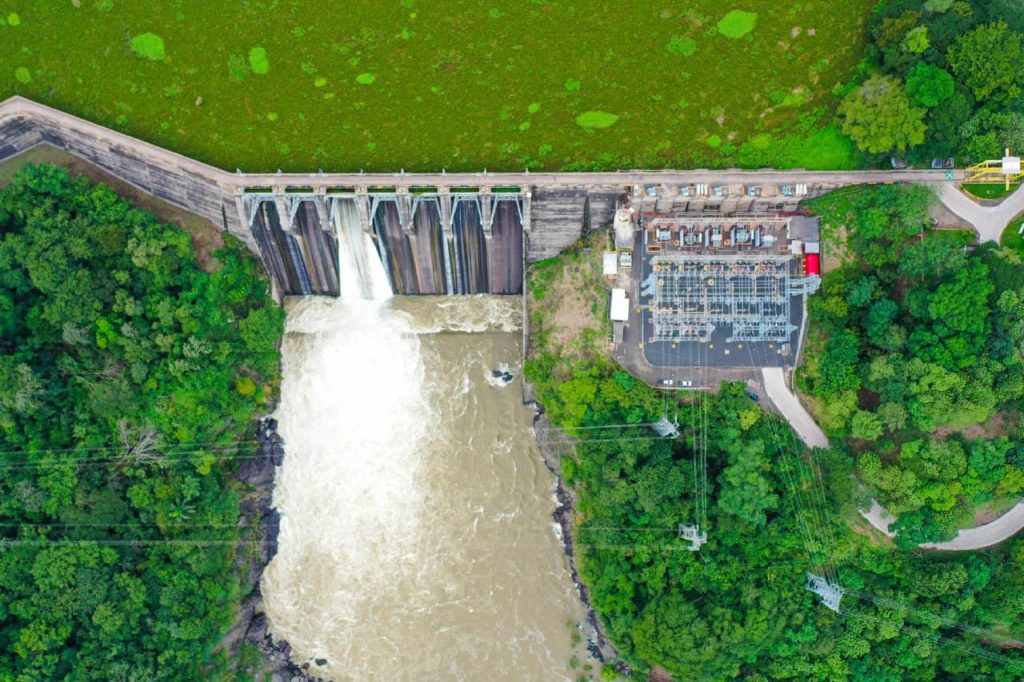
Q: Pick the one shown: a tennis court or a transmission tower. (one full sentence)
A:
This aerial view contains a transmission tower.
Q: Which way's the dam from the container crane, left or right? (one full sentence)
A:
The dam appears to the left of the container crane in this view.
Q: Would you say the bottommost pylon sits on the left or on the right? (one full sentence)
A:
The bottommost pylon appears in the right half of the scene.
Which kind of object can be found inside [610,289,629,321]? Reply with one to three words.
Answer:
building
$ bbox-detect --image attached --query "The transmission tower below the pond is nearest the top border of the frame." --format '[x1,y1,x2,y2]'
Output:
[647,416,677,447]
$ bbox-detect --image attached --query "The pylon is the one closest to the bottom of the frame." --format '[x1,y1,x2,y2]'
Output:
[803,568,851,610]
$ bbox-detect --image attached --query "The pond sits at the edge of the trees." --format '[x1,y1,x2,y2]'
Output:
[0,0,868,197]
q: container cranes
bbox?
[963,148,1024,190]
